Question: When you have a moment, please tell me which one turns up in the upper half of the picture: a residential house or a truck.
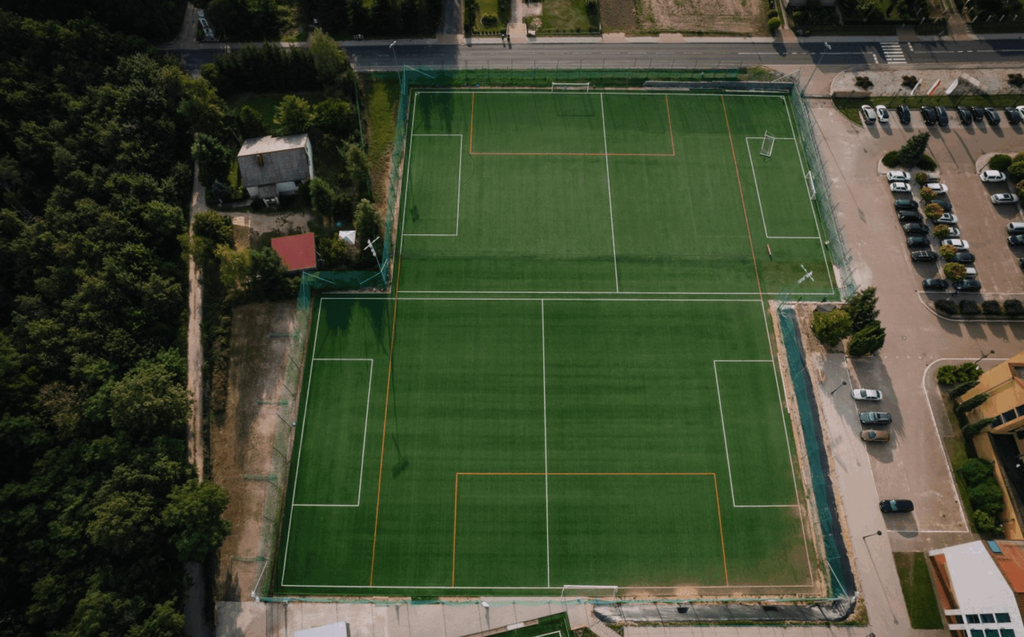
residential house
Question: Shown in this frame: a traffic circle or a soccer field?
soccer field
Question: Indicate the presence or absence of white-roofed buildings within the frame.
Yes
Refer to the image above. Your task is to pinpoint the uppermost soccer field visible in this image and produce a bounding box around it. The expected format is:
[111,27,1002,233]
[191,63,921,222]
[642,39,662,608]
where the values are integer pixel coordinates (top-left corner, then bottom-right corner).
[389,88,840,301]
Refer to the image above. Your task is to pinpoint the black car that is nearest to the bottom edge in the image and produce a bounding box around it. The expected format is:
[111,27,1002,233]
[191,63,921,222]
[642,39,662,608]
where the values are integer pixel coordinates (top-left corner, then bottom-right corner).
[879,498,913,513]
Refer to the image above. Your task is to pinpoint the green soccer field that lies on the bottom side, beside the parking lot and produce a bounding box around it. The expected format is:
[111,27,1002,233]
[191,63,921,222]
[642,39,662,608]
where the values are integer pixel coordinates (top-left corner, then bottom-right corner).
[270,293,822,596]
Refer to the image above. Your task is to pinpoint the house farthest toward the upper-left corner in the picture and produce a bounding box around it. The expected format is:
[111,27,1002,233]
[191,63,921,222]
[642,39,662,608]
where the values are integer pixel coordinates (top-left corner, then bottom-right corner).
[242,134,312,212]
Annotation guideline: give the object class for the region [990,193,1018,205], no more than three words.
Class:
vehicle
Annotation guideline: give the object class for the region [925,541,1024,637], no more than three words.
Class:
building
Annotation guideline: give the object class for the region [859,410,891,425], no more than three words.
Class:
car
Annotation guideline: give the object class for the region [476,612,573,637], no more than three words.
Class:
soccer field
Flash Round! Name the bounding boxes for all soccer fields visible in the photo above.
[476,612,573,637]
[389,88,840,301]
[270,293,822,596]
